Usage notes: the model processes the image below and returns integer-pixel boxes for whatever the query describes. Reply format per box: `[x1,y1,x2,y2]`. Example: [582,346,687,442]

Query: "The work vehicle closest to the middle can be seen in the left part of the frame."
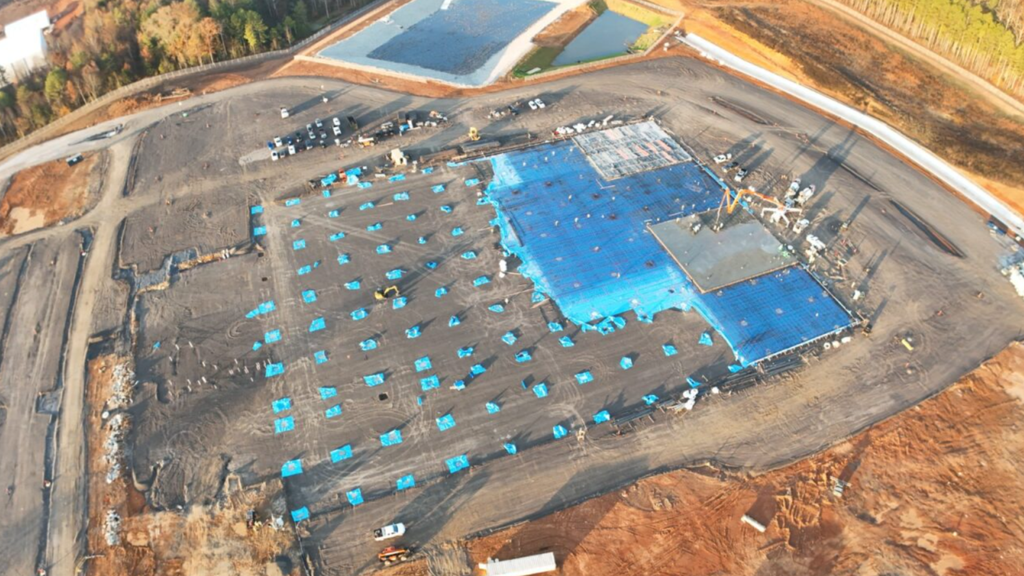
[372,281,400,301]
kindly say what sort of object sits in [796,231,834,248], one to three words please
vehicle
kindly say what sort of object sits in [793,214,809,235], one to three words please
vehicle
